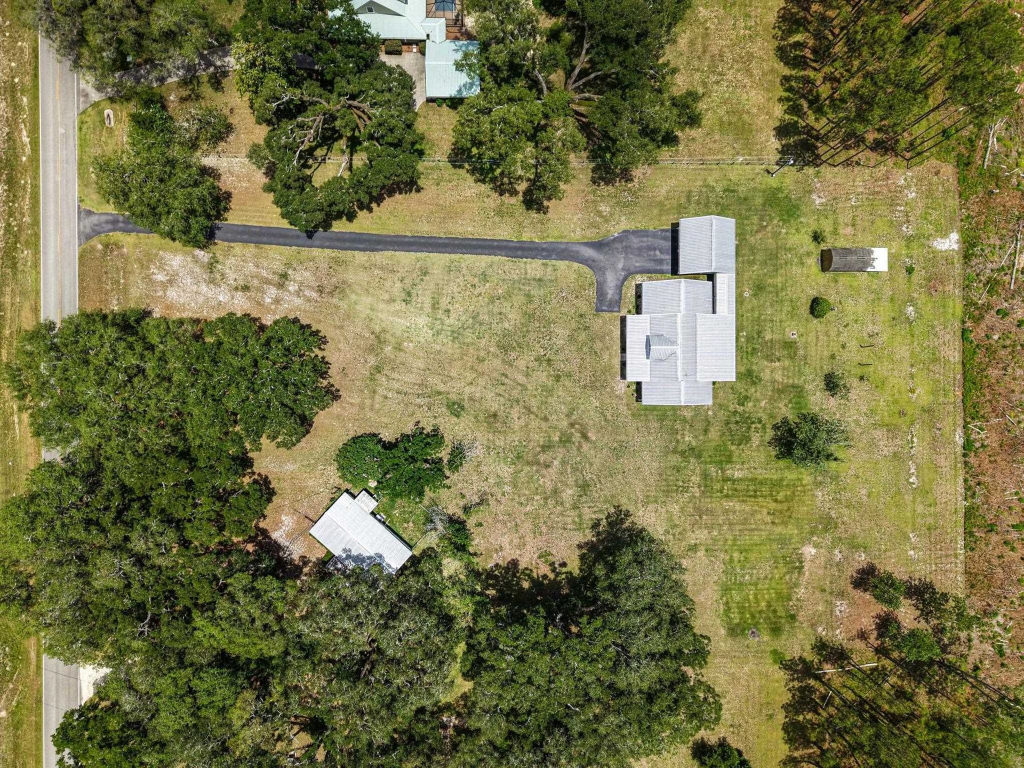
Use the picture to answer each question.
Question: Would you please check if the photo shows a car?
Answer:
No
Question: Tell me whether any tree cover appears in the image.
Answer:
Yes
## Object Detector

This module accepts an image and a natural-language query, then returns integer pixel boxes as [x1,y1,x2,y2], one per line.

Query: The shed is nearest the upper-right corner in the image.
[821,248,890,274]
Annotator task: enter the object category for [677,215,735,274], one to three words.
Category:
building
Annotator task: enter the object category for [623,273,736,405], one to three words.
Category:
house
